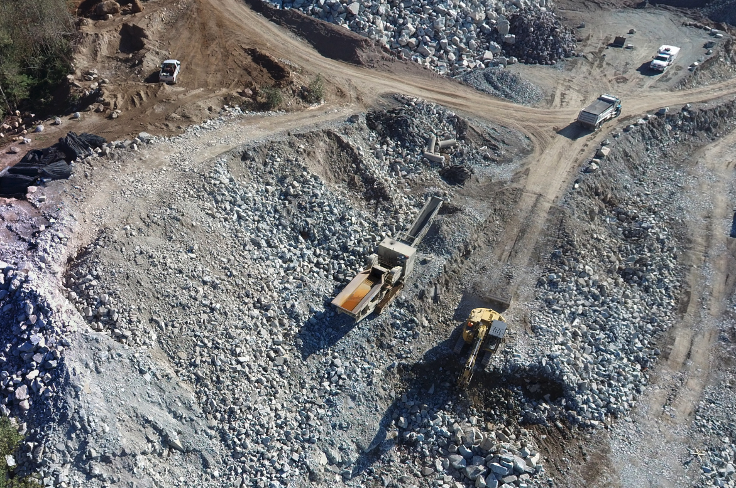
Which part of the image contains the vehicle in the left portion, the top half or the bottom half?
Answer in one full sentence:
You can find the vehicle in the left portion in the top half.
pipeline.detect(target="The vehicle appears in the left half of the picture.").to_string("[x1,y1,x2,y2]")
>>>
[161,58,183,77]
